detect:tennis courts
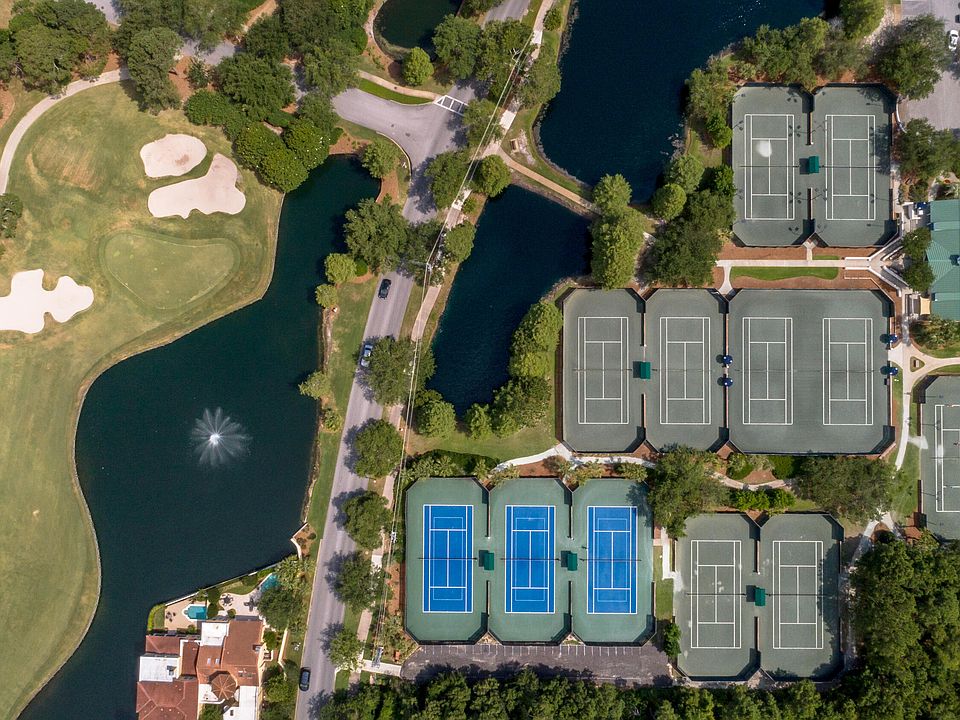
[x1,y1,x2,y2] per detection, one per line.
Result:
[738,86,813,243]
[807,291,892,454]
[564,289,646,451]
[761,517,841,680]
[406,481,489,643]
[489,482,573,643]
[677,517,761,681]
[646,289,729,452]
[729,290,808,453]
[573,482,653,644]
[813,87,892,244]
[922,378,960,540]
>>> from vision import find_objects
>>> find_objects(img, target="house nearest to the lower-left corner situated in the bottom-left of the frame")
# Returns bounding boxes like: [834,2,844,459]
[135,629,206,720]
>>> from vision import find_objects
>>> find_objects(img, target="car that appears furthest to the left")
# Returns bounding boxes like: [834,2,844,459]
[298,667,310,690]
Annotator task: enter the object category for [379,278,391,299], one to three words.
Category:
vehicle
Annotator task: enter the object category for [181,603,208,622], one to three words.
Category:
swimming pool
